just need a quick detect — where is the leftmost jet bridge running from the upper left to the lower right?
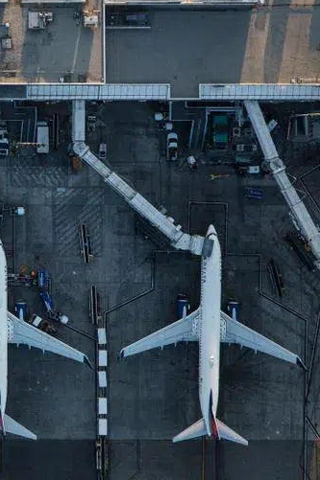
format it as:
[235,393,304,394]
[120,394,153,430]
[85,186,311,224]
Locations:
[69,101,211,255]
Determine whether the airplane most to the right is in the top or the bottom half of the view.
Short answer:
bottom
